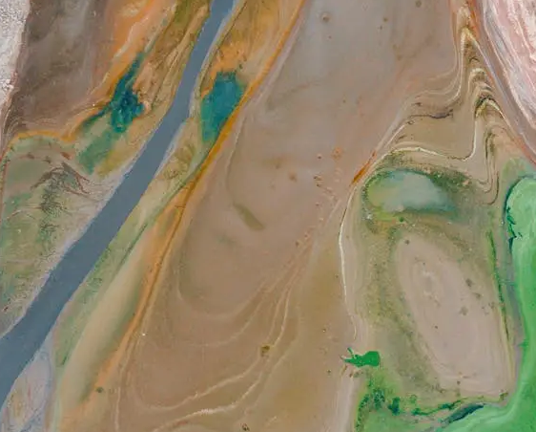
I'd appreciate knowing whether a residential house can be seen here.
No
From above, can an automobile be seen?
No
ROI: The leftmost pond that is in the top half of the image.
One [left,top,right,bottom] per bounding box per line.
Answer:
[80,51,146,134]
